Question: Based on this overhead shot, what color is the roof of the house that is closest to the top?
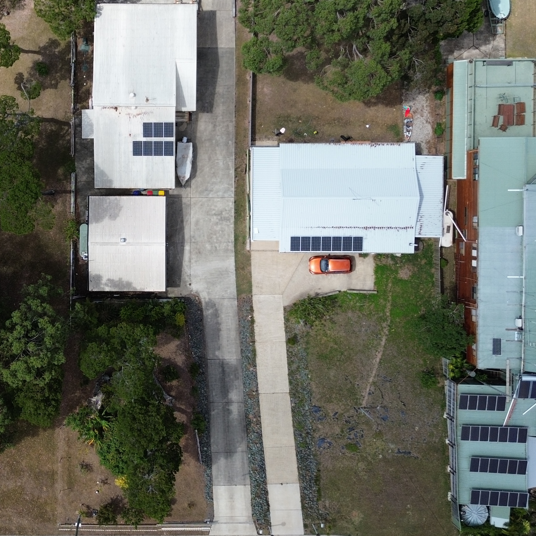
white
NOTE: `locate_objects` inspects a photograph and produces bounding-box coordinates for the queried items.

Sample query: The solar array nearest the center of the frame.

[290,236,363,252]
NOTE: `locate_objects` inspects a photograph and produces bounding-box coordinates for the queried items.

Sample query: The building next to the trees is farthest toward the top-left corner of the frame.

[81,2,197,190]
